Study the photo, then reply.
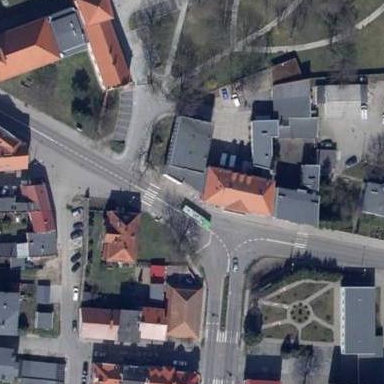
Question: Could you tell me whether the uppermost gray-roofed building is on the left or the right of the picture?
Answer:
left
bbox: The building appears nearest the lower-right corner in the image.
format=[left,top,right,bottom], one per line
[337,288,384,358]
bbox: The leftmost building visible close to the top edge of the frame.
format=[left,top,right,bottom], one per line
[0,18,62,82]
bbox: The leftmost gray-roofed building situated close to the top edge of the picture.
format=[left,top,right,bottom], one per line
[46,8,88,59]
